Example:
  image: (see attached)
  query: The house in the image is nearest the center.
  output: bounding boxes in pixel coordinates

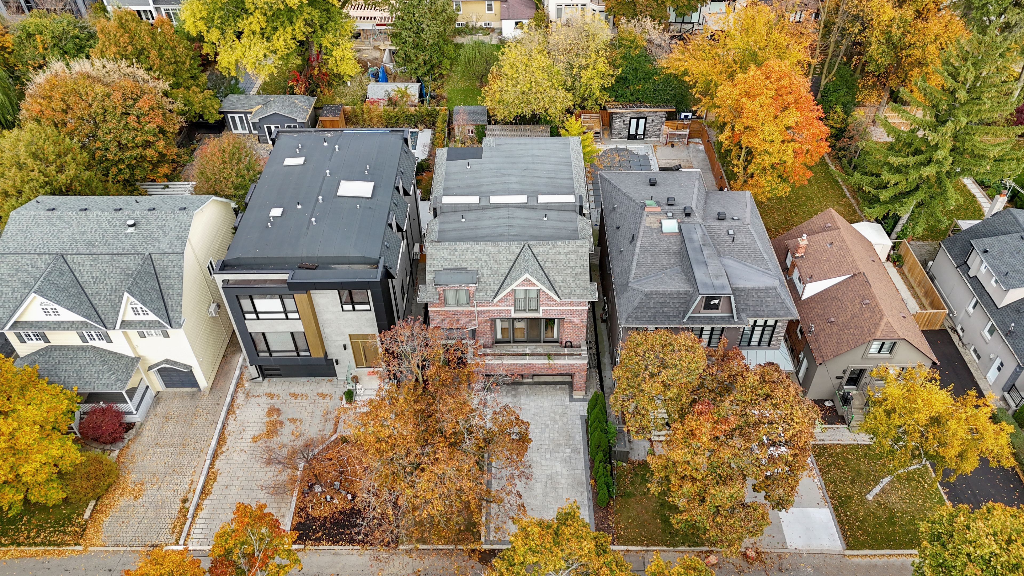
[417,136,604,397]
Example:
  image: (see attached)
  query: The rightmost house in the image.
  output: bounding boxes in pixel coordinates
[932,190,1024,420]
